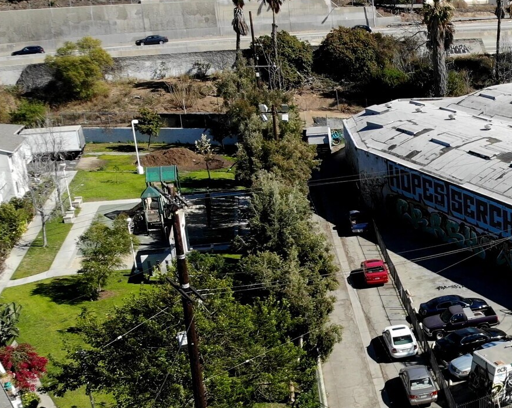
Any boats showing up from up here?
No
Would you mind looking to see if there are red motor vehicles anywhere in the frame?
Yes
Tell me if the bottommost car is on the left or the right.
right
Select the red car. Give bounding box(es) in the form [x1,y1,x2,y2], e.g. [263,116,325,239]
[359,254,388,281]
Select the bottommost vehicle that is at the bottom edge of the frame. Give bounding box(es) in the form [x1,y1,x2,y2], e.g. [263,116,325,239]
[395,364,437,403]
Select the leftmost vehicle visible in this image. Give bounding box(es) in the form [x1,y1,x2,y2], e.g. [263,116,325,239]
[8,41,46,57]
